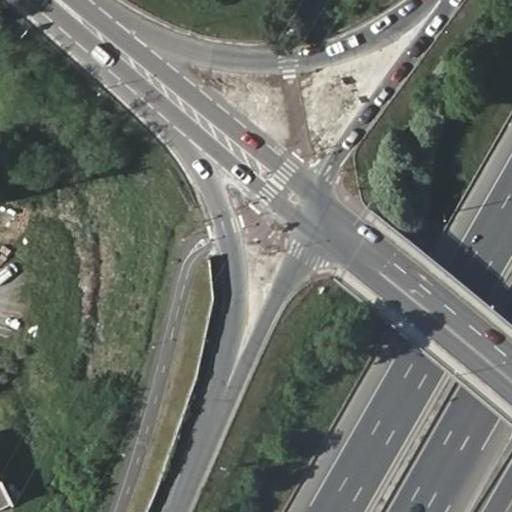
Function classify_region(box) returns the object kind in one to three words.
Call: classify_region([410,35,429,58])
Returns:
car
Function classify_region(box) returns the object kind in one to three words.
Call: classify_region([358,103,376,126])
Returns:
car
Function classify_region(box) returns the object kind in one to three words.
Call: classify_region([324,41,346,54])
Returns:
vehicle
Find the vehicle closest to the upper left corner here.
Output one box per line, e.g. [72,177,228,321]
[92,44,115,66]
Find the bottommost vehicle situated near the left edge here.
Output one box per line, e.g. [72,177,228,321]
[2,314,24,332]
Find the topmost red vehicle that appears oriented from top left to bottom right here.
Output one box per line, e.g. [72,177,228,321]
[240,132,260,150]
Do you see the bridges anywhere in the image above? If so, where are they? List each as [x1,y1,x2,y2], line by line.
[334,214,512,427]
